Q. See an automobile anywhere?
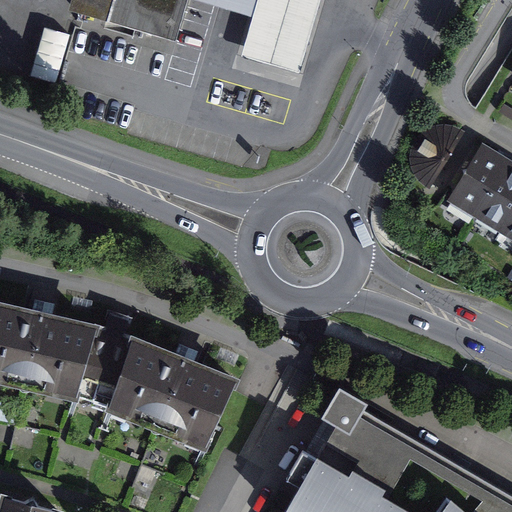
Yes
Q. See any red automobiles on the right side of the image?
Yes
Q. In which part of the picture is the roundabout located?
center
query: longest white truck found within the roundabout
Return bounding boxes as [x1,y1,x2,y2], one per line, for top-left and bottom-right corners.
[350,211,374,248]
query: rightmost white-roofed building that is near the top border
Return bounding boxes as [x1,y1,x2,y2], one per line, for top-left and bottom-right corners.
[242,0,320,72]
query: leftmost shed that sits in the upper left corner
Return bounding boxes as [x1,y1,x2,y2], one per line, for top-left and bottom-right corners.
[30,28,70,82]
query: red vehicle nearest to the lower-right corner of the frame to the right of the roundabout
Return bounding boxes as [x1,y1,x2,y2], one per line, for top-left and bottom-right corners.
[454,305,478,322]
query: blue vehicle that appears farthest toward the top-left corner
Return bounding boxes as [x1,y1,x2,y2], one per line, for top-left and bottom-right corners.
[100,40,112,61]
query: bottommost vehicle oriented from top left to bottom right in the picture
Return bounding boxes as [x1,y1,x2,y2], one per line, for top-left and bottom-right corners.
[418,428,440,446]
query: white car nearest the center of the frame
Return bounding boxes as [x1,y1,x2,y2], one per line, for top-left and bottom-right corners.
[254,232,266,255]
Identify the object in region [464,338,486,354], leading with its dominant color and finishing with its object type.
blue car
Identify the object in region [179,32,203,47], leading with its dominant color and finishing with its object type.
white vehicle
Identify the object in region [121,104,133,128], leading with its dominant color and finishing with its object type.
white vehicle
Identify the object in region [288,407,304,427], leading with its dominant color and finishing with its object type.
red car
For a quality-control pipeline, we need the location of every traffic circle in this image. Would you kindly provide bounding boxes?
[236,180,375,319]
